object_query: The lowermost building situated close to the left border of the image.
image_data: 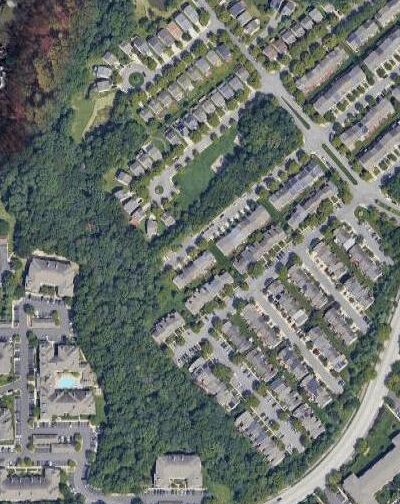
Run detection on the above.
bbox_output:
[0,467,61,503]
